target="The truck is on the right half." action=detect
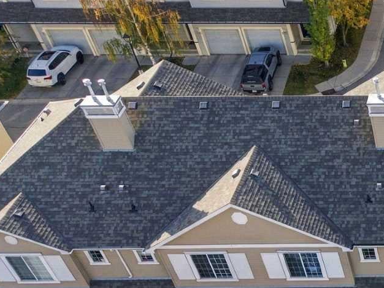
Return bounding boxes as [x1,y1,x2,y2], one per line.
[239,48,281,94]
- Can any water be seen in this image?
No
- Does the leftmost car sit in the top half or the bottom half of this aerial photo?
top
